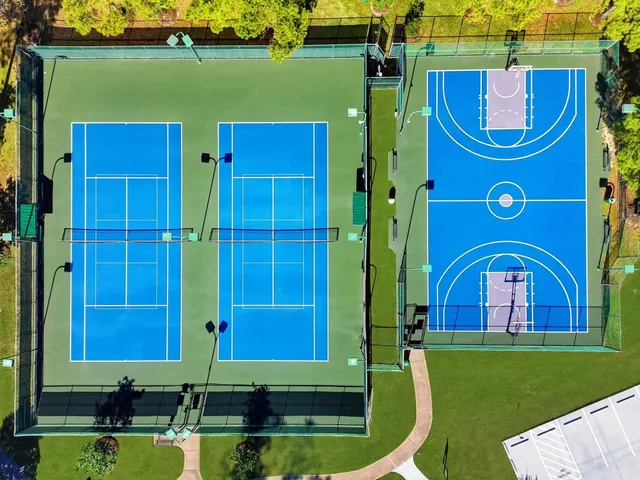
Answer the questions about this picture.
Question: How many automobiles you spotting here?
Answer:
0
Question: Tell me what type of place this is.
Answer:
sports ground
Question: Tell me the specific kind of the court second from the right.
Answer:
tennis court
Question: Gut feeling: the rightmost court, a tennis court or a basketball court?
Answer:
basketball court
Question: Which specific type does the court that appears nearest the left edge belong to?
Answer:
tennis court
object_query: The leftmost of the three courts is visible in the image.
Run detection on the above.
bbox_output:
[71,123,181,361]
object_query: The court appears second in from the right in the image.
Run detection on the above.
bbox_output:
[218,123,328,361]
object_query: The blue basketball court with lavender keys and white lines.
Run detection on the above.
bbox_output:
[428,69,588,332]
